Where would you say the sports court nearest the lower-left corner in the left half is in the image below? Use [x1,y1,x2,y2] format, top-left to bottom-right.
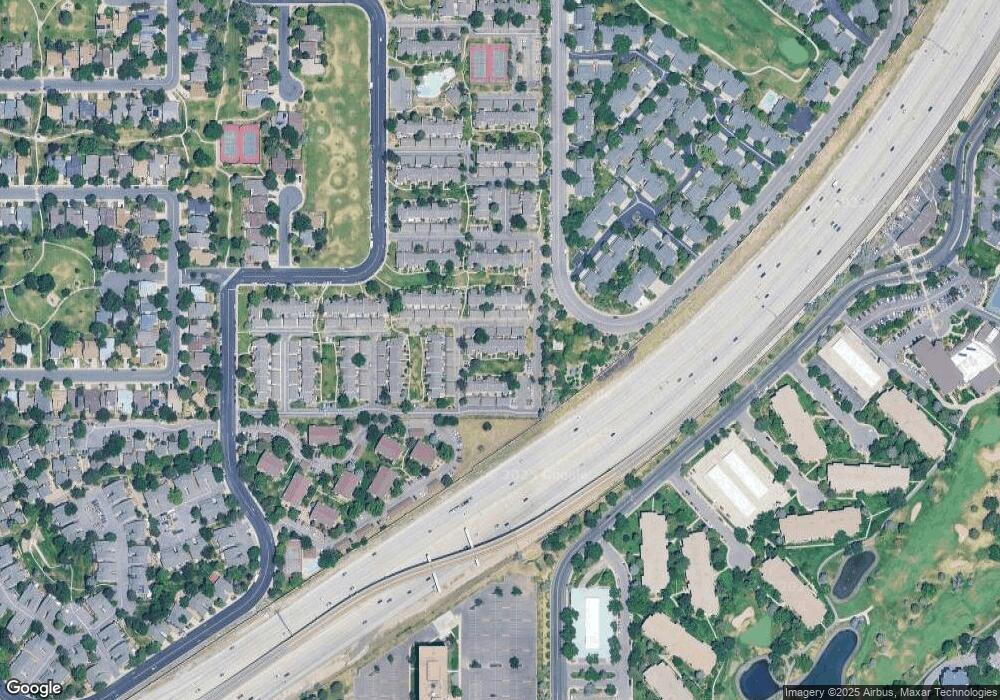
[285,541,302,578]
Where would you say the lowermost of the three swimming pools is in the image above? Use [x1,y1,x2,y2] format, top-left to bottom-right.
[303,558,320,577]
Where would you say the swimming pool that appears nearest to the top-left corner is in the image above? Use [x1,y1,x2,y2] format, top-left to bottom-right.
[415,67,456,100]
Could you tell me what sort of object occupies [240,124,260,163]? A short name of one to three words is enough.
tennis court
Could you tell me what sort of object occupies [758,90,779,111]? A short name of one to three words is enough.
swimming pool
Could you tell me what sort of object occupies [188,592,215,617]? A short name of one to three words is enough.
house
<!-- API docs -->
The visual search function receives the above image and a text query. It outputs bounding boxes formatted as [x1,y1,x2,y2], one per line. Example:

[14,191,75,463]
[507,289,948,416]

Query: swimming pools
[758,90,779,111]
[415,67,456,100]
[303,558,320,577]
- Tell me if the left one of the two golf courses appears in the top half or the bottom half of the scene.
top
